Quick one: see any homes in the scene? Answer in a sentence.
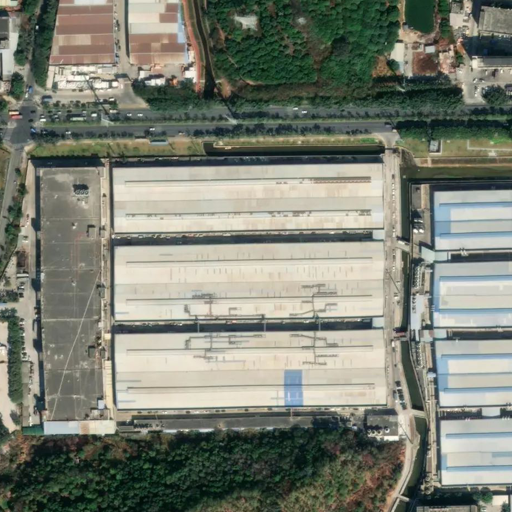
Yes, a home appears in the view.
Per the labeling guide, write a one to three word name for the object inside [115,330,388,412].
building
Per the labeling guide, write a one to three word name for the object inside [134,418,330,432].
building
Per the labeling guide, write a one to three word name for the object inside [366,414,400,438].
house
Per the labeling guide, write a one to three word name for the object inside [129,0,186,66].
shed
